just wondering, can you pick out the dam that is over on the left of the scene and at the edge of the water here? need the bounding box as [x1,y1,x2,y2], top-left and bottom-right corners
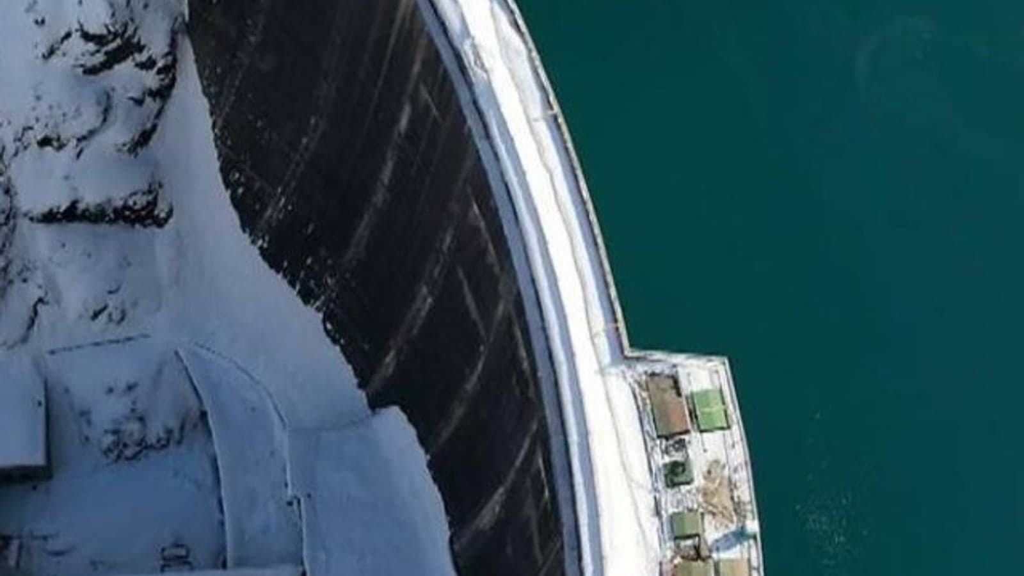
[181,0,627,576]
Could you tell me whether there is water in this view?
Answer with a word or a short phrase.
Yes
